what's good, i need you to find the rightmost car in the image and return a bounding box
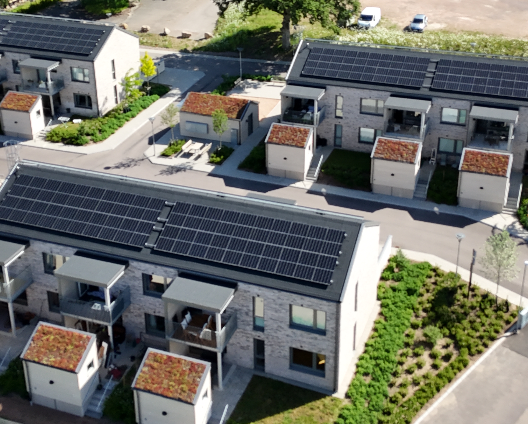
[409,10,429,29]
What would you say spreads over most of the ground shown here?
buildings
